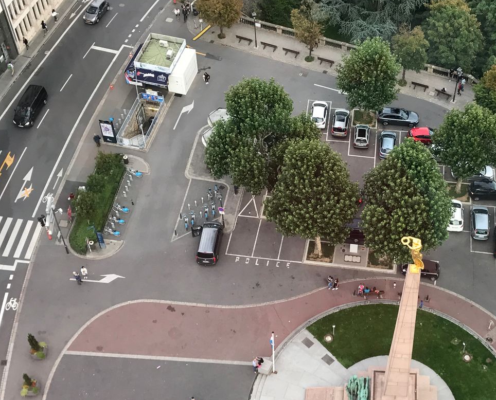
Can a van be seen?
Yes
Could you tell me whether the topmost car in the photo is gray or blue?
gray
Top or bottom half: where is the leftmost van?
top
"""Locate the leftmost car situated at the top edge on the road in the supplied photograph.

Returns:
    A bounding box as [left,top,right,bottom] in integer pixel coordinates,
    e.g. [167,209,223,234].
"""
[80,0,113,26]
